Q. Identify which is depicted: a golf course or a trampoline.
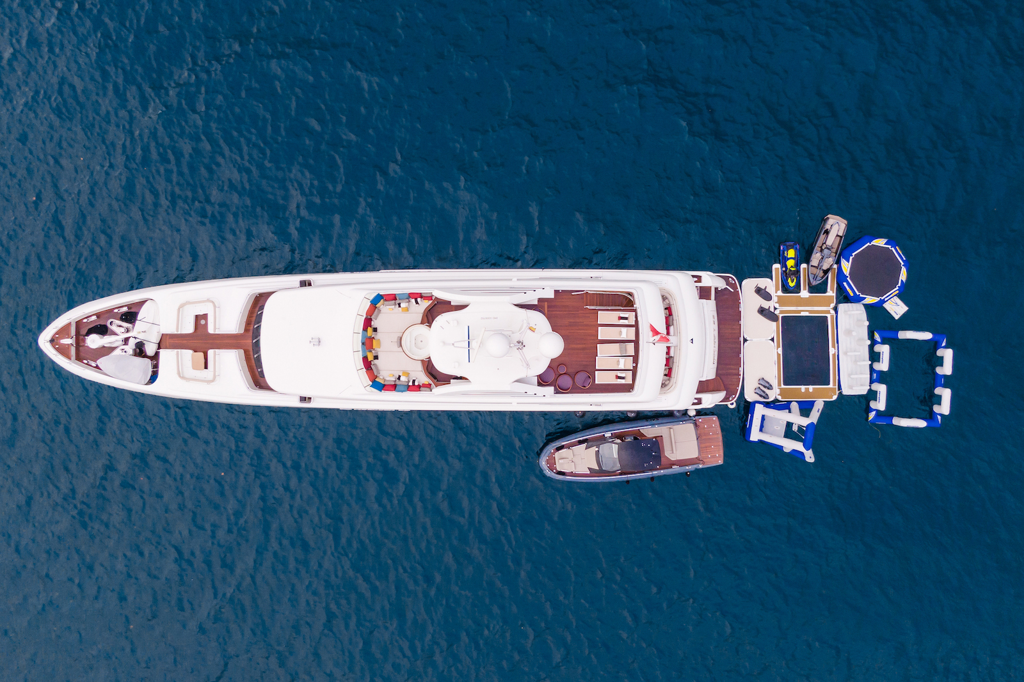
trampoline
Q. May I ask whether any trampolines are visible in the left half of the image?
No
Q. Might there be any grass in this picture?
No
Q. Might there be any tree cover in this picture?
No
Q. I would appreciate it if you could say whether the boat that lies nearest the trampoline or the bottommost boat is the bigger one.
the bottommost boat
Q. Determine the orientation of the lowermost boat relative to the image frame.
from side to side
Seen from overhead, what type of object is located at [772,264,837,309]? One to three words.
pier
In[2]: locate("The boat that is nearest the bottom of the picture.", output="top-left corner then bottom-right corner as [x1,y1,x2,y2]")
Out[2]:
[537,416,723,484]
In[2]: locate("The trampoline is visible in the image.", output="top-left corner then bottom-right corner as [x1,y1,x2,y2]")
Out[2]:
[837,235,910,307]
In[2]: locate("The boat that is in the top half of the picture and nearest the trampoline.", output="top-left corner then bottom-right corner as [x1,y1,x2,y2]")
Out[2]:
[809,214,848,286]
